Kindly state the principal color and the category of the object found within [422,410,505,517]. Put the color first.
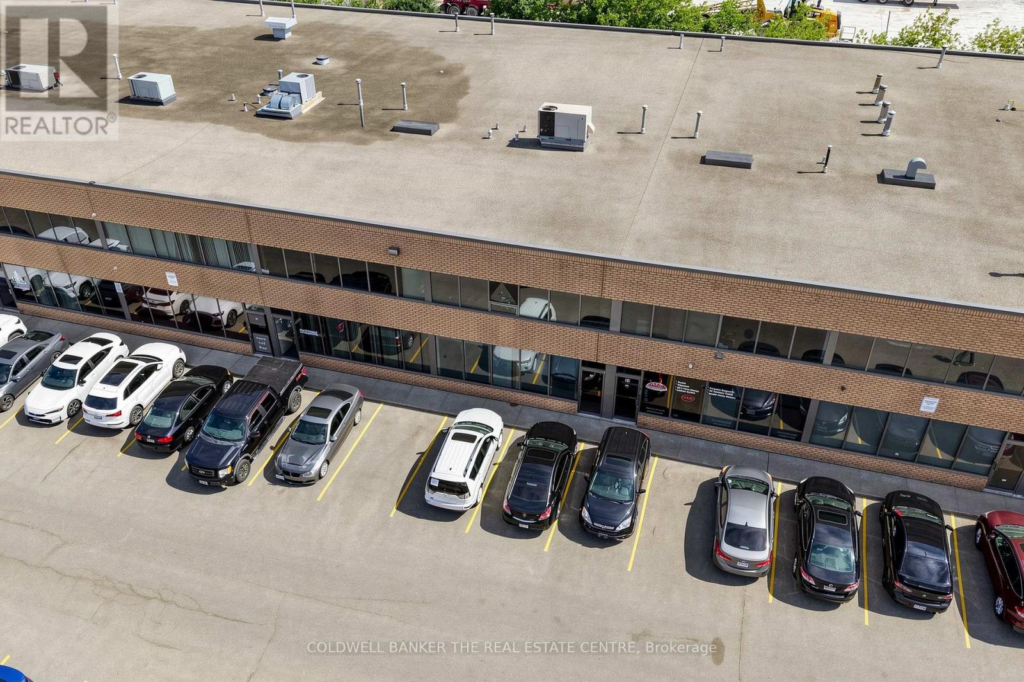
white car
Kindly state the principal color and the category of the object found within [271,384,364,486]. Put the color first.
gray car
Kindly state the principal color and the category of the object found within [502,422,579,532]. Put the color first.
black car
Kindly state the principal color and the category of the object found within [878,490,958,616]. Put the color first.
black car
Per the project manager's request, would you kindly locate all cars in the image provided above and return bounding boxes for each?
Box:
[80,345,185,432]
[974,511,1024,641]
[708,461,783,576]
[579,418,652,540]
[790,476,866,605]
[502,422,579,532]
[878,490,958,616]
[0,313,36,343]
[0,327,69,410]
[422,410,505,517]
[271,384,364,486]
[0,664,28,682]
[133,363,234,450]
[23,332,130,423]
